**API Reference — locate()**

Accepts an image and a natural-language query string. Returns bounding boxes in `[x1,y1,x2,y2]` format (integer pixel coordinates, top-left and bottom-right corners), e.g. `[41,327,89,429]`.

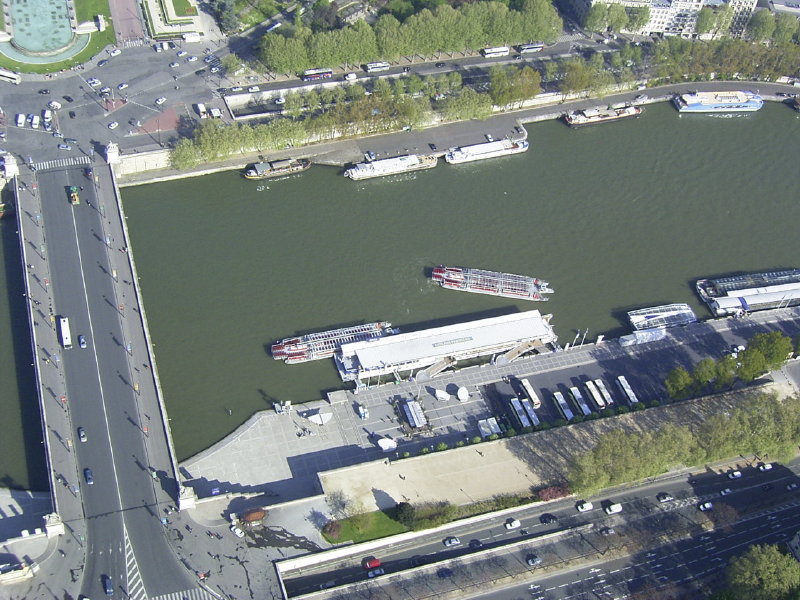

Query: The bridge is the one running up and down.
[12,163,177,523]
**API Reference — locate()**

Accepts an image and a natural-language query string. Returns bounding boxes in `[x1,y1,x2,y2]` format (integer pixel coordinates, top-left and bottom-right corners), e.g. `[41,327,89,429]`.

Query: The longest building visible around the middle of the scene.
[341,311,560,382]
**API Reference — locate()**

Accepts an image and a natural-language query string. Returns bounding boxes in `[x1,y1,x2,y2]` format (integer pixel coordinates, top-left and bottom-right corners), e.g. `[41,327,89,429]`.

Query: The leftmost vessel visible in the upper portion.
[241,159,323,180]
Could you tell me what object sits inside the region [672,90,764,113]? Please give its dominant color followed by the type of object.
white vessel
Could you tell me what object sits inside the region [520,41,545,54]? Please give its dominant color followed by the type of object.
white vehicle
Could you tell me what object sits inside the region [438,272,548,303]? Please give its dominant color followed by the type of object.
white boat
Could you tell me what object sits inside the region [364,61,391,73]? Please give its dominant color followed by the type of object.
white vehicle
